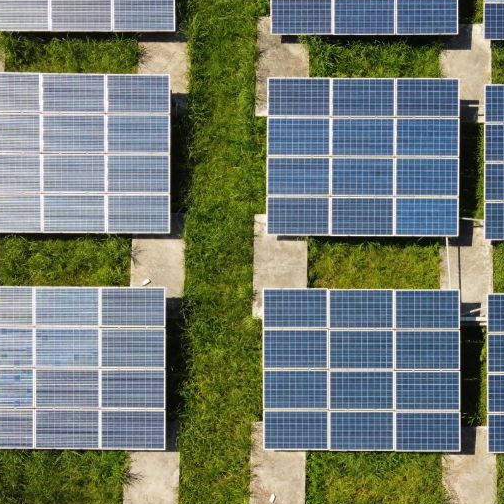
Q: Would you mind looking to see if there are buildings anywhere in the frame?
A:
No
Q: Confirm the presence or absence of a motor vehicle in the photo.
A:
No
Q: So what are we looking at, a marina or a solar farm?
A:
solar farm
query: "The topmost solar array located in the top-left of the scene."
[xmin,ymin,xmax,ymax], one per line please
[0,0,176,35]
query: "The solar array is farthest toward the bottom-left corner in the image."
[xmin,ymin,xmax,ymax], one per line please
[0,288,168,448]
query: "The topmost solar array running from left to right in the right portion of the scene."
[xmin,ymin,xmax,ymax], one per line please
[271,0,459,39]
